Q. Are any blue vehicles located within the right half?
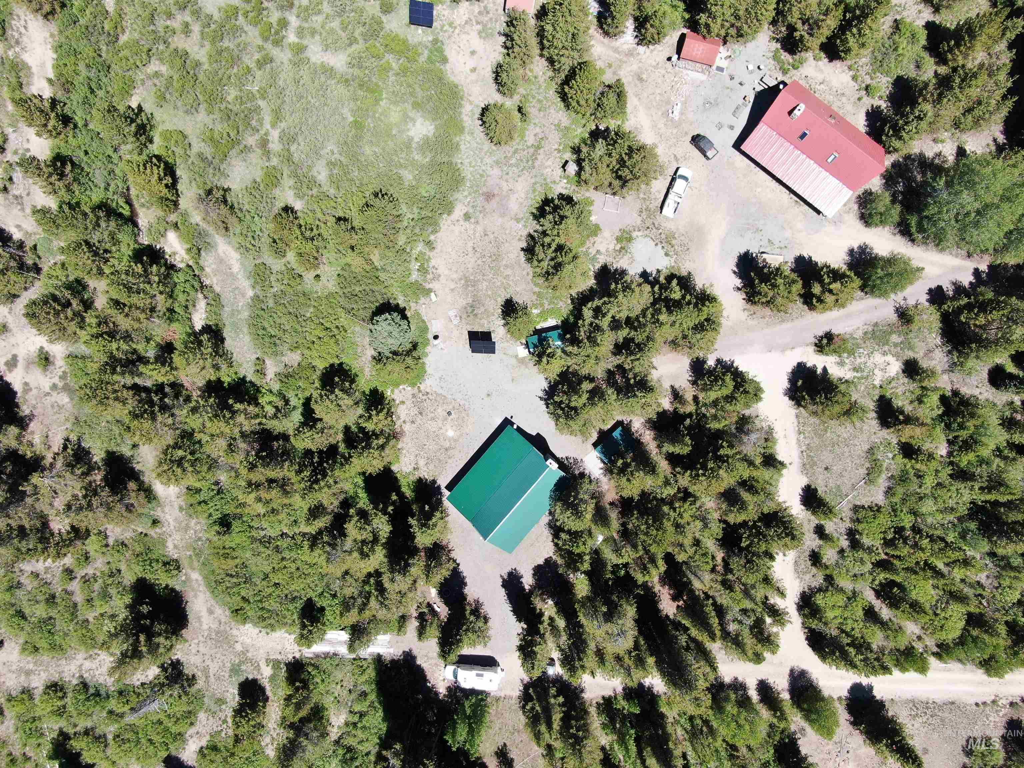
No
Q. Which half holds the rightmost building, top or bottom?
top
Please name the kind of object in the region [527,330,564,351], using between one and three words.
shed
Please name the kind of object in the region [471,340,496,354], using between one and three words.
solar array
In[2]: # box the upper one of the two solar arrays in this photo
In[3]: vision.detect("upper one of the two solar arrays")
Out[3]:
[410,0,434,26]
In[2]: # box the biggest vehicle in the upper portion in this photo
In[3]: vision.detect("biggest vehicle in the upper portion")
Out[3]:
[659,165,693,221]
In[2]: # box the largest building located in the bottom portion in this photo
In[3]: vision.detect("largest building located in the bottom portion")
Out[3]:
[447,424,566,554]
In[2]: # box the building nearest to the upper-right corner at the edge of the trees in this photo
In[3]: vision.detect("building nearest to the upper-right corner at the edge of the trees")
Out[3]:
[738,80,886,218]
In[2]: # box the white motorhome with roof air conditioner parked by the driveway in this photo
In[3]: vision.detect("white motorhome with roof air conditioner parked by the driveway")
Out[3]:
[446,664,503,696]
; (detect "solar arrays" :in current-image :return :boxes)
[410,0,434,26]
[471,340,496,354]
